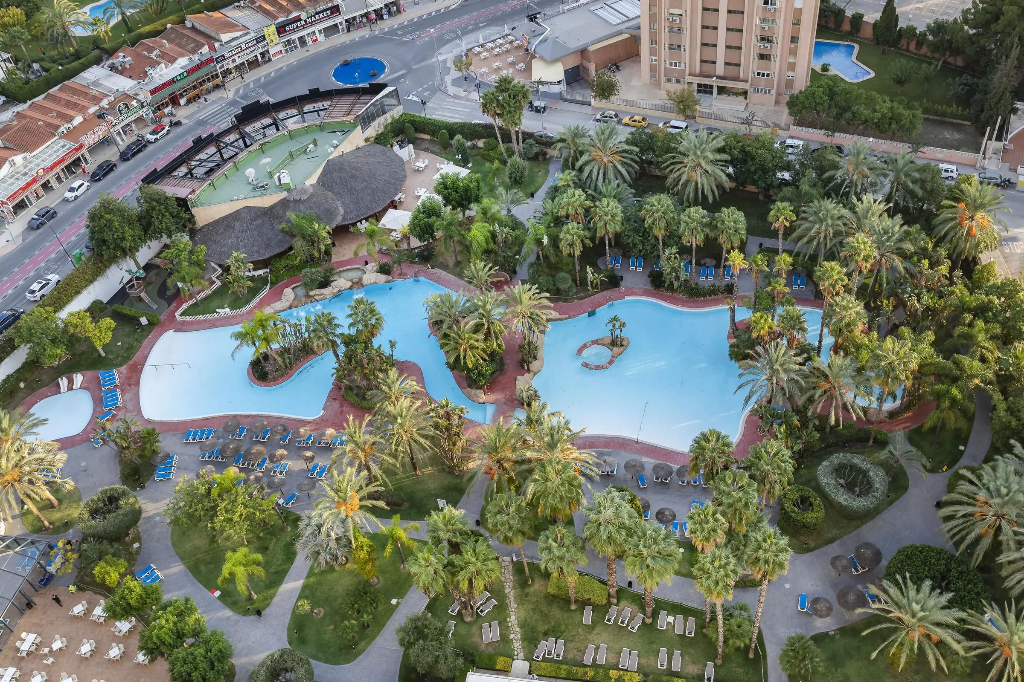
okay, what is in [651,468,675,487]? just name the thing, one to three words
umbrella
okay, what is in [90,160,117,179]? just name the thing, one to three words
car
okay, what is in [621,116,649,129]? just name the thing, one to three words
vehicle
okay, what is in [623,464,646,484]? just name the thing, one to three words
umbrella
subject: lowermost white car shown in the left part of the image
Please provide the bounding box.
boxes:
[24,276,62,299]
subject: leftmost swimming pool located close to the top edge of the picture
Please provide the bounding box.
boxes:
[68,0,137,35]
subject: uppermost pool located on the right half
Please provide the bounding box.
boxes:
[820,41,872,80]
